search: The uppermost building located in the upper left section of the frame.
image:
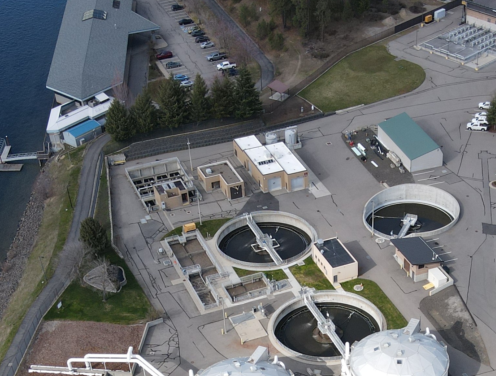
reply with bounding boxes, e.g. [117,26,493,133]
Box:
[46,0,160,102]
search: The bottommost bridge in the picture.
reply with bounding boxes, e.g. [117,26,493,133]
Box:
[303,289,350,356]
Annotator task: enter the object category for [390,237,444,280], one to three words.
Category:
building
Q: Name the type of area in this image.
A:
industrial area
